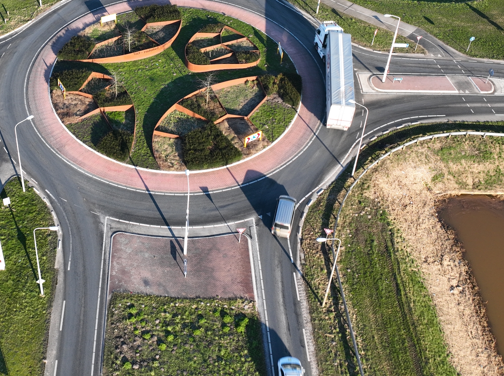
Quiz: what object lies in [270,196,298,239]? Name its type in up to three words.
van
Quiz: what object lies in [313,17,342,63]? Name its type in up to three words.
truck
